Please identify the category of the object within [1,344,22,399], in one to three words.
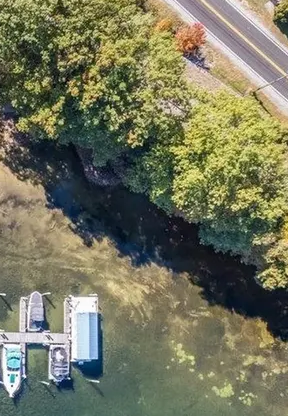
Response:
boat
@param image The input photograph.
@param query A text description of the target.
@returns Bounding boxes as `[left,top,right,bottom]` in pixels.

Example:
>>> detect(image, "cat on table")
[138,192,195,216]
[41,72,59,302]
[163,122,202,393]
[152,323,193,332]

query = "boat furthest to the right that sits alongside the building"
[50,343,68,386]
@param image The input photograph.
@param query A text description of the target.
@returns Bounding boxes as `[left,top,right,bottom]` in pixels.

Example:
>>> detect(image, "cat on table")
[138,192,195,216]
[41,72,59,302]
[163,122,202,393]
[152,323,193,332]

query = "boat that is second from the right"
[26,292,44,331]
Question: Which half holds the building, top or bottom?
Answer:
bottom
